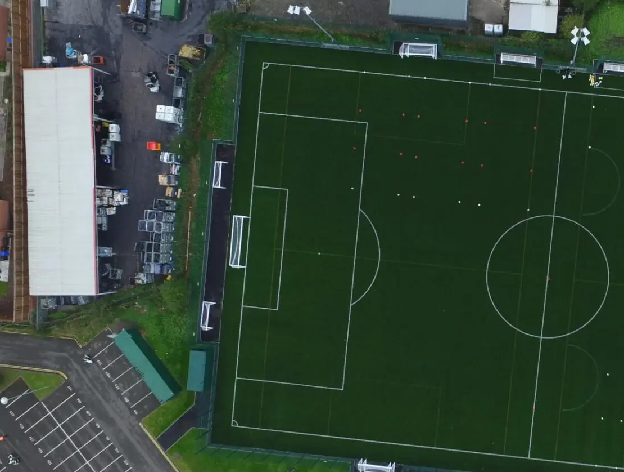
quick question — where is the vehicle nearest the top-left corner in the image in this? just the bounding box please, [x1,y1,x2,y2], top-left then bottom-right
[61,38,75,59]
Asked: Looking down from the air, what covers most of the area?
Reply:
grass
